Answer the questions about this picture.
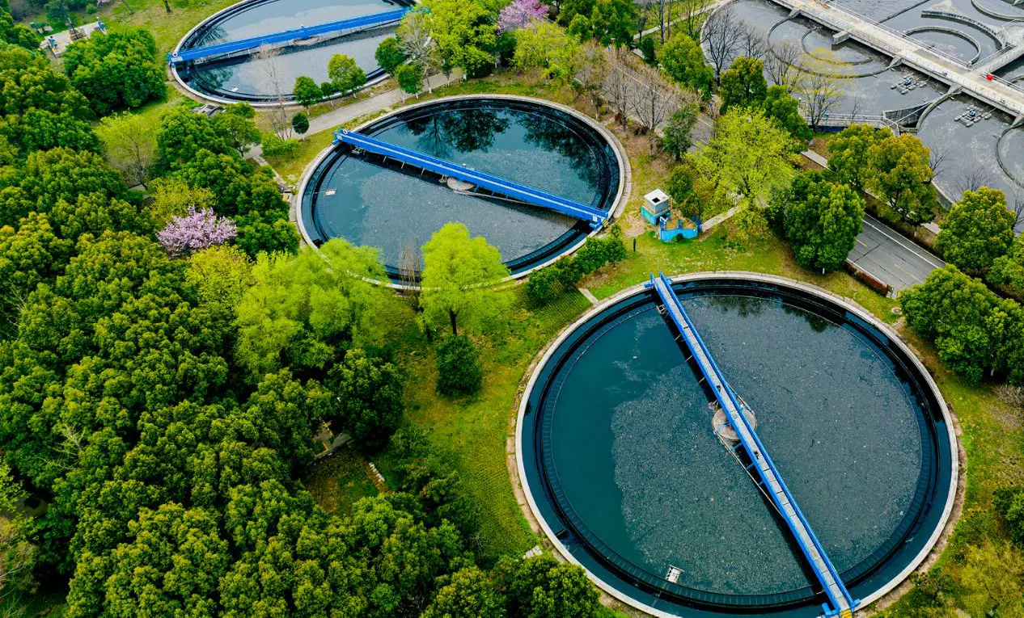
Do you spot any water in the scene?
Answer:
Yes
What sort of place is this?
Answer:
industrial area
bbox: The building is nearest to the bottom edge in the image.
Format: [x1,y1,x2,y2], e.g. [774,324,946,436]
[640,189,670,226]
